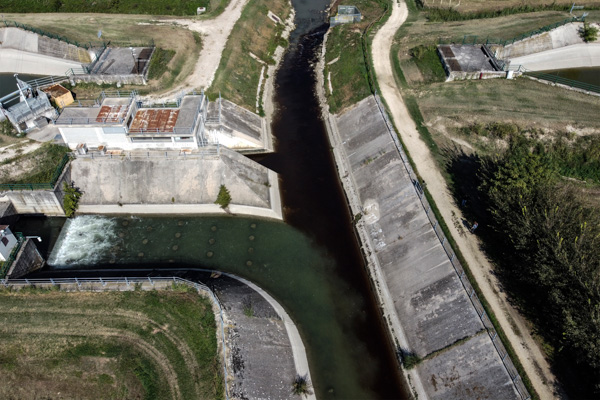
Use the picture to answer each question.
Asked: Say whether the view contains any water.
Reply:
Yes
